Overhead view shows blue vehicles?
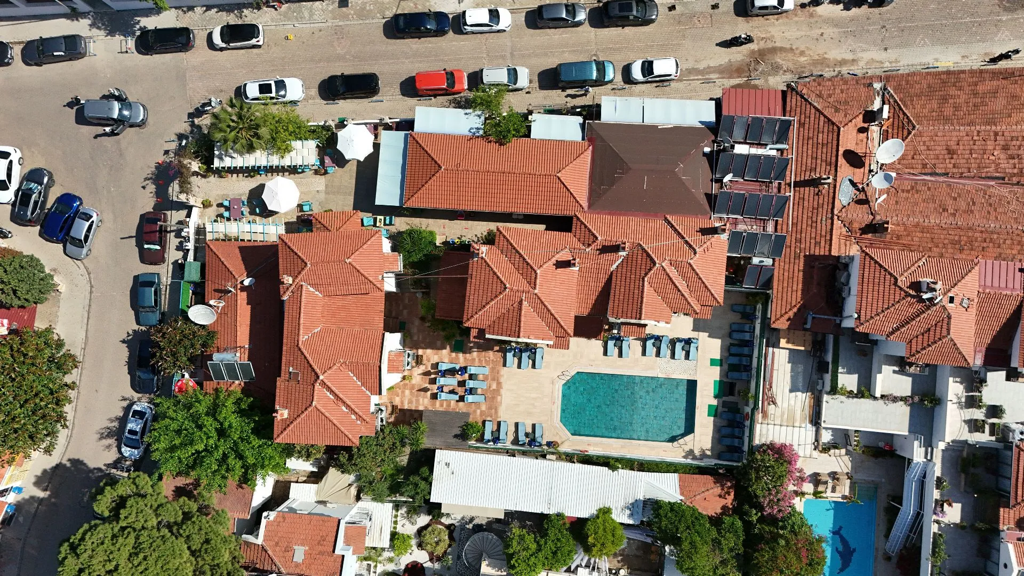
Yes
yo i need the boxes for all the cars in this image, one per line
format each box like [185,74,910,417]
[79,88,150,139]
[25,36,91,68]
[461,6,510,37]
[241,76,306,106]
[135,274,166,325]
[325,71,380,100]
[132,341,163,392]
[213,23,266,52]
[140,213,173,263]
[0,43,20,68]
[395,10,450,42]
[536,1,585,32]
[414,68,467,97]
[601,0,657,30]
[744,0,792,20]
[628,56,680,85]
[477,65,528,93]
[139,27,198,56]
[557,57,614,89]
[40,192,87,244]
[66,208,106,260]
[0,147,26,205]
[12,168,58,226]
[121,402,157,458]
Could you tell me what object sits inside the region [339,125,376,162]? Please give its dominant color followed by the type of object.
white umbrella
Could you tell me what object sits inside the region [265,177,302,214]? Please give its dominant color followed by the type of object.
white umbrella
